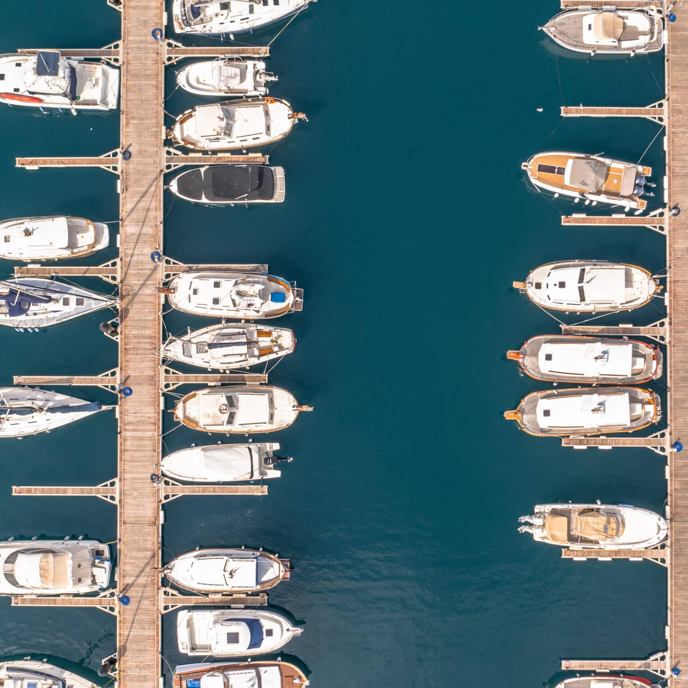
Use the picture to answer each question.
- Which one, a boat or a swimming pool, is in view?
boat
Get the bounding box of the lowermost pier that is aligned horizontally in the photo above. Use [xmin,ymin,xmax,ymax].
[559,648,668,678]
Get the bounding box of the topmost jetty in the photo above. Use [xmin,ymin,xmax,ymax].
[559,0,664,18]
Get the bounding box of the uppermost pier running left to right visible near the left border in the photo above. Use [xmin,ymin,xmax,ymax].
[16,41,121,68]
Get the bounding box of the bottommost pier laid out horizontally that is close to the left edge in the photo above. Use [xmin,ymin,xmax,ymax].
[10,587,118,614]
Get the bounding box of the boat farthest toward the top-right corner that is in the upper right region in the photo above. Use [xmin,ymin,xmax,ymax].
[537,6,662,58]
